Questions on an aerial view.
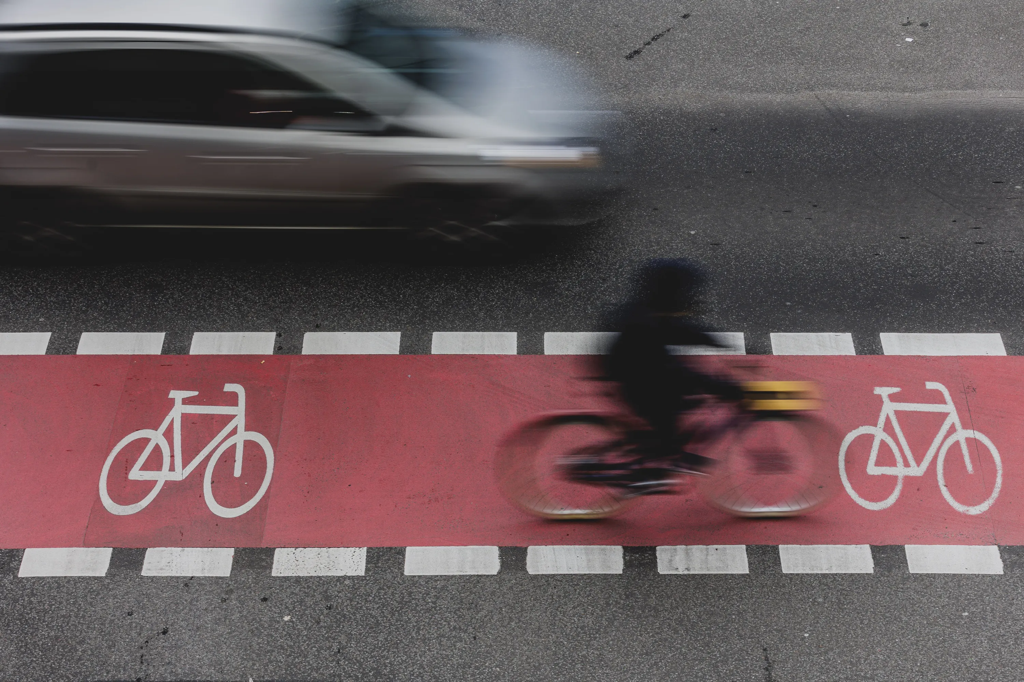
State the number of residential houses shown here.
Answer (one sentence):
No residential houses are visible.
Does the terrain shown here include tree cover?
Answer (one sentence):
No, the scene doesn't show any tree cover.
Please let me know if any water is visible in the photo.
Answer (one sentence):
No, there is no water in the image.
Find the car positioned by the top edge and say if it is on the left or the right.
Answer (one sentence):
You can find the car positioned by the top edge on the left side of the picture.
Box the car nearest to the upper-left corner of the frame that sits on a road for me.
[0,0,605,268]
